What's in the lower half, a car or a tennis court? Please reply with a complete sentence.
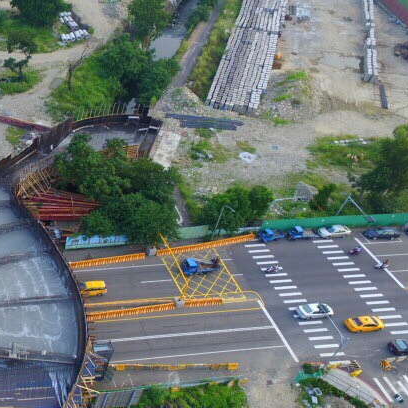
The one visible in the lower half is a car.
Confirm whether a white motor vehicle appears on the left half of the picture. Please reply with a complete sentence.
No, the scene shows no white motor vehicle on the left half of the picture.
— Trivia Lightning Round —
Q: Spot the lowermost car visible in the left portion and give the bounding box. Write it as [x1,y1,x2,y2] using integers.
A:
[79,280,108,299]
